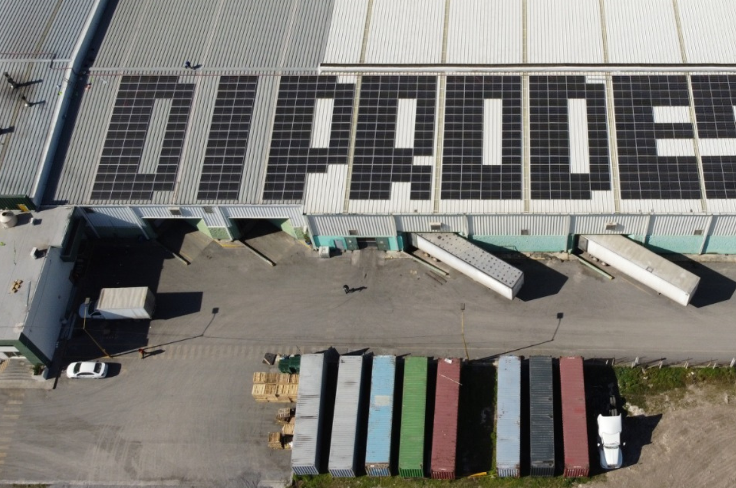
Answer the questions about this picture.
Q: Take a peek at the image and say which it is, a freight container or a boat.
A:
freight container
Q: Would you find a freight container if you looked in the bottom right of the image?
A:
Yes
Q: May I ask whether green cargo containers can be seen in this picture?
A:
Yes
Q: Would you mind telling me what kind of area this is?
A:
industrial area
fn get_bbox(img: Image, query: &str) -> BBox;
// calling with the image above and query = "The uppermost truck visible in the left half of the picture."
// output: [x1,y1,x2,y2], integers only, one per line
[77,288,153,319]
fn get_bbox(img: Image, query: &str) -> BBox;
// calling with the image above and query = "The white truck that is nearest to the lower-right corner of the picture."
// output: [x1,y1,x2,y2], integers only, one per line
[595,390,623,471]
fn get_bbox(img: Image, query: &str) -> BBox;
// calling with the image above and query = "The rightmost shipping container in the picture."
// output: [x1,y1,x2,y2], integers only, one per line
[560,357,589,475]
